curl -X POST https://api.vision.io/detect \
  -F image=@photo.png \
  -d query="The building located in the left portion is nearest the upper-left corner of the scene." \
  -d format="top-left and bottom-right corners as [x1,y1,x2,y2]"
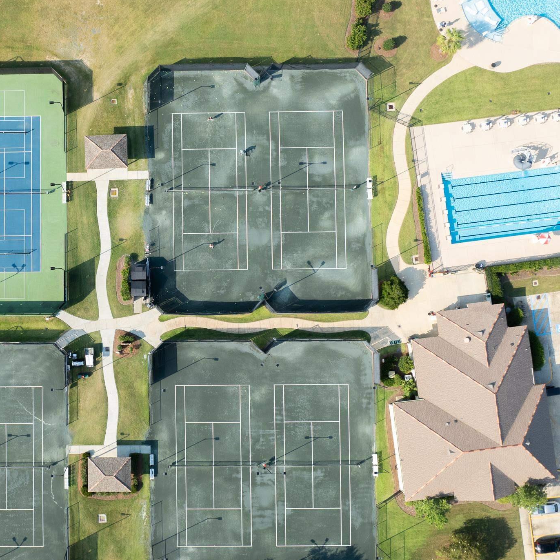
[84,134,129,172]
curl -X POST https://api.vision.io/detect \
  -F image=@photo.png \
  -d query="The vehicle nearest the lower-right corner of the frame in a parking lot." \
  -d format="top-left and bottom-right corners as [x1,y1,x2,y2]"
[535,538,560,555]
